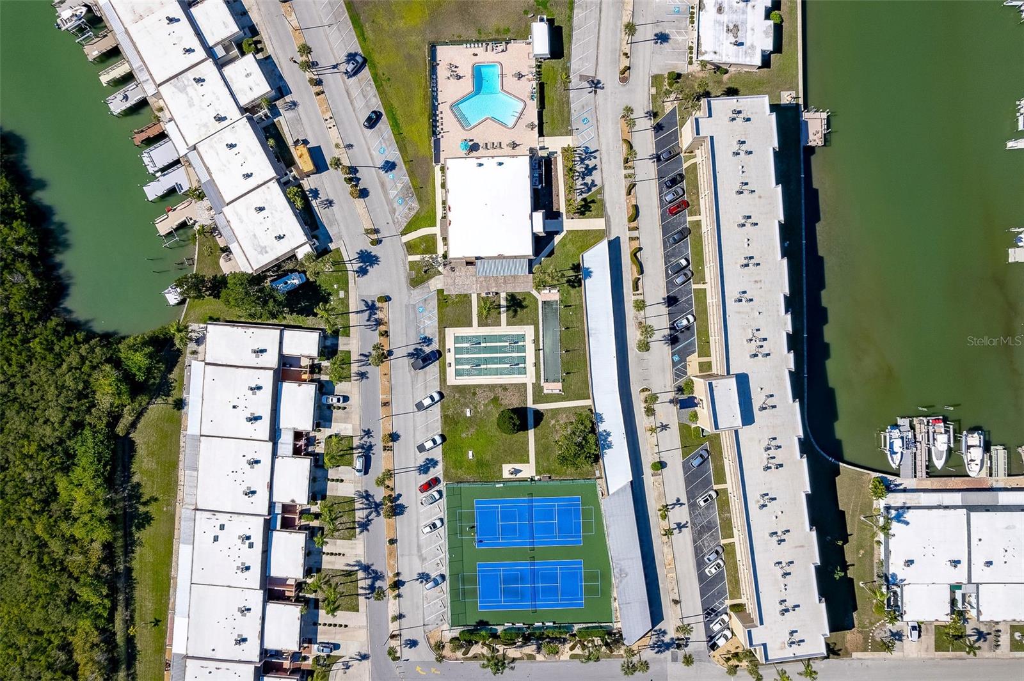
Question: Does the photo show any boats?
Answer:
Yes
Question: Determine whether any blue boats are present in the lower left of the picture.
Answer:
No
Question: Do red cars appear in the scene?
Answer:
Yes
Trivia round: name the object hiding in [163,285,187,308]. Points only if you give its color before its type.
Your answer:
white boat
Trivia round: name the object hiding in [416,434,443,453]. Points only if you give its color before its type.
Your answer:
white vehicle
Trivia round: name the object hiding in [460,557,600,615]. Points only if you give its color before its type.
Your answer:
blue tennis court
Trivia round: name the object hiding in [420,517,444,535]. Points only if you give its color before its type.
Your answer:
white car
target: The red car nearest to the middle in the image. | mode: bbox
[417,475,440,493]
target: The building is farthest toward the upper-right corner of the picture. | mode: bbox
[694,0,773,73]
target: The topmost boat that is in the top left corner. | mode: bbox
[51,8,88,29]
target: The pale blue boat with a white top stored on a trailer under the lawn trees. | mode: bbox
[271,275,307,292]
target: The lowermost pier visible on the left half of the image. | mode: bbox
[152,197,197,237]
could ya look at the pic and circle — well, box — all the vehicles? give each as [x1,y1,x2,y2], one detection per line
[707,627,733,650]
[662,172,685,189]
[703,544,724,564]
[906,621,919,643]
[673,313,696,331]
[292,138,314,172]
[415,391,442,411]
[694,488,716,508]
[662,186,685,205]
[420,489,443,507]
[688,449,710,469]
[416,434,443,453]
[666,199,689,217]
[423,573,446,591]
[417,475,440,493]
[707,612,730,632]
[668,226,690,245]
[703,557,725,577]
[322,395,345,405]
[667,257,690,276]
[412,350,440,369]
[351,454,365,477]
[360,110,382,130]
[420,517,444,535]
[658,146,681,163]
[673,269,693,286]
[313,642,336,652]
